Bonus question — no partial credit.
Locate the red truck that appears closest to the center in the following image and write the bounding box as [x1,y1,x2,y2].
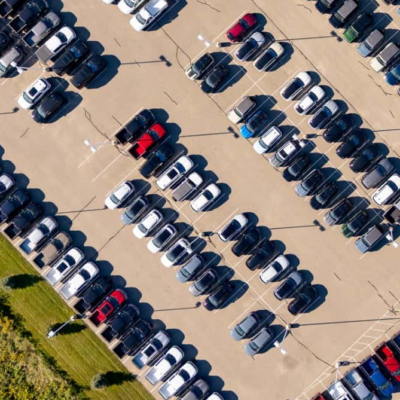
[125,121,170,162]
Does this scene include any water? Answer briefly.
No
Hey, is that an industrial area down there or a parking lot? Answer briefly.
parking lot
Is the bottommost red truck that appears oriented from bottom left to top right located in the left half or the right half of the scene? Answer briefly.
left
